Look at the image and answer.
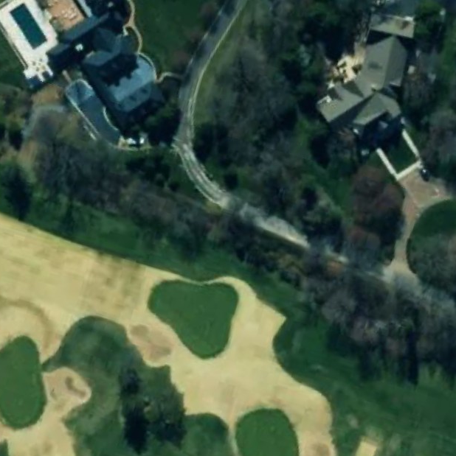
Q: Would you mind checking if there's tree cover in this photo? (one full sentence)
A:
Yes, there is tree cover in the image.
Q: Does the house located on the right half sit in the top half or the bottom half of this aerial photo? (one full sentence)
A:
You can find the house located on the right half in the top half.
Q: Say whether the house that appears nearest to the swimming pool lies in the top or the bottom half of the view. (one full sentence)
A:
The top half of the photo is where the house that appears nearest to the swimming pool is.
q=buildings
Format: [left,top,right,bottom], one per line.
[313,0,421,134]
[44,0,159,112]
